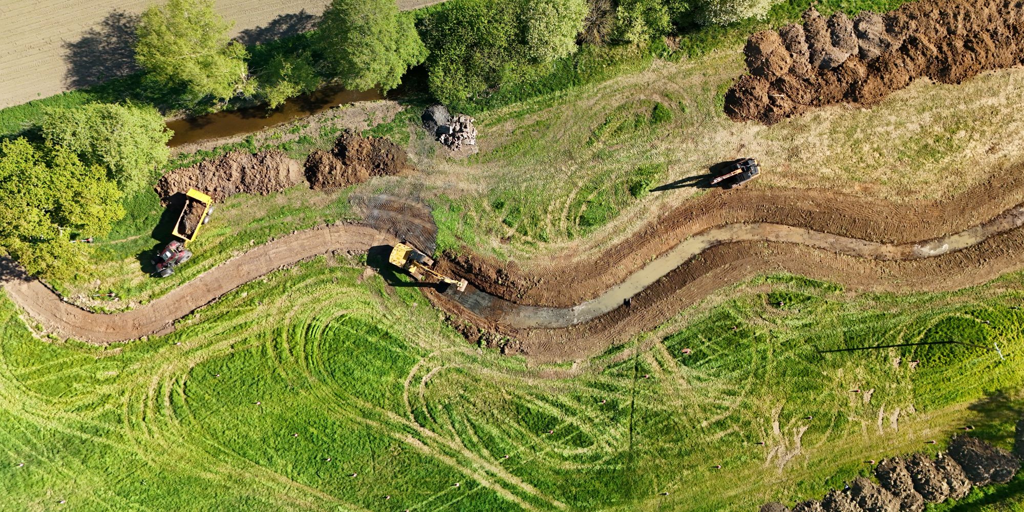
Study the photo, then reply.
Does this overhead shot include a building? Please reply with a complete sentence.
No, I can't see a single building in this photo.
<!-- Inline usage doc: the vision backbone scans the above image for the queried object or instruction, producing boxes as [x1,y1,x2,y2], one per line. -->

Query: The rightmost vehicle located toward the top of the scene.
[710,153,770,190]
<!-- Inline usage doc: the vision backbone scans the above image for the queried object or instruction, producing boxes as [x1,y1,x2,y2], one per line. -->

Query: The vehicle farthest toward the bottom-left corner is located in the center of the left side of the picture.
[146,236,191,279]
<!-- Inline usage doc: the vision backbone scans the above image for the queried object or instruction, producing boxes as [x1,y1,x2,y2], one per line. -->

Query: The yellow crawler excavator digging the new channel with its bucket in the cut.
[388,238,468,293]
